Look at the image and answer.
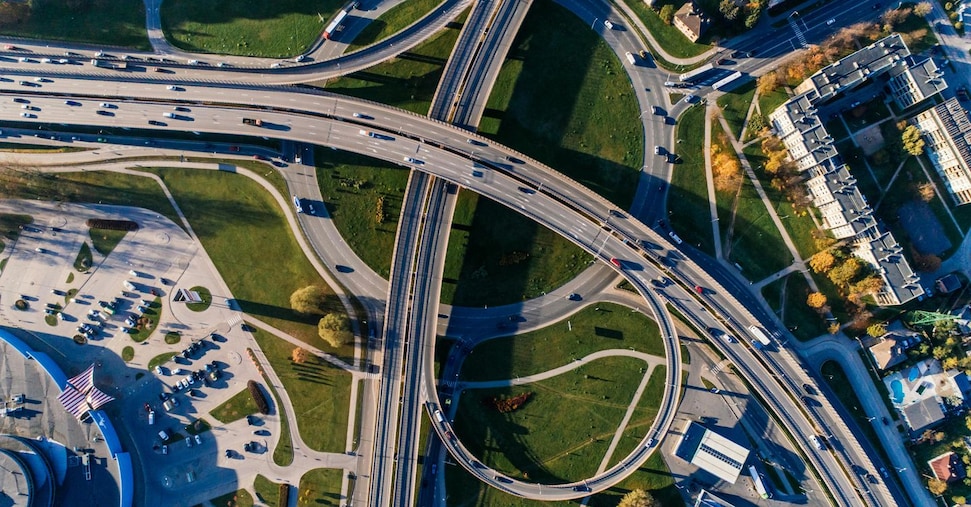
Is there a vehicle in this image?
Yes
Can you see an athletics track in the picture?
No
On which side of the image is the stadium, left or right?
left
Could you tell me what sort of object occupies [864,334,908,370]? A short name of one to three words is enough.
house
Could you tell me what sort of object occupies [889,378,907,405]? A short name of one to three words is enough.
swimming pool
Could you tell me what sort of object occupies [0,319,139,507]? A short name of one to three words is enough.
stadium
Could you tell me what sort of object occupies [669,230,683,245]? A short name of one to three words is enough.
vehicle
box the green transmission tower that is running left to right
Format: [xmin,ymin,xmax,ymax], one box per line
[914,311,965,325]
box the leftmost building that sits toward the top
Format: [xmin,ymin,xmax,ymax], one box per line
[672,0,712,40]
